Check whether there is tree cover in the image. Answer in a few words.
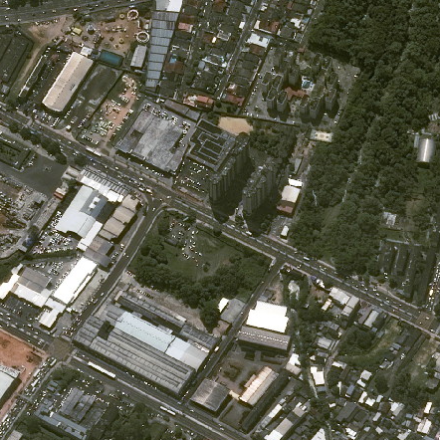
Yes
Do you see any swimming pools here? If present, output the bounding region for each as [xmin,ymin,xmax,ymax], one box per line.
[99,50,124,67]
[302,76,315,90]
